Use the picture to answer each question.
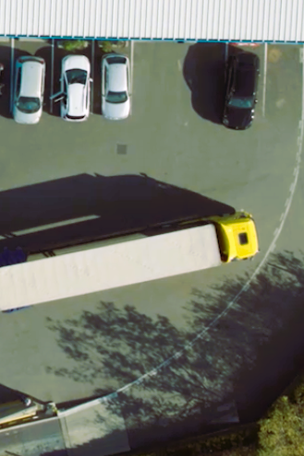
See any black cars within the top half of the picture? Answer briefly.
Yes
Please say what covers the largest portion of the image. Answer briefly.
paved ground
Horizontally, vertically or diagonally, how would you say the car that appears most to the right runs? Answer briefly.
vertically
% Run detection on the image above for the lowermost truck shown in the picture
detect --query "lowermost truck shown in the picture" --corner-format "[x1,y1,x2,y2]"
[0,213,260,317]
